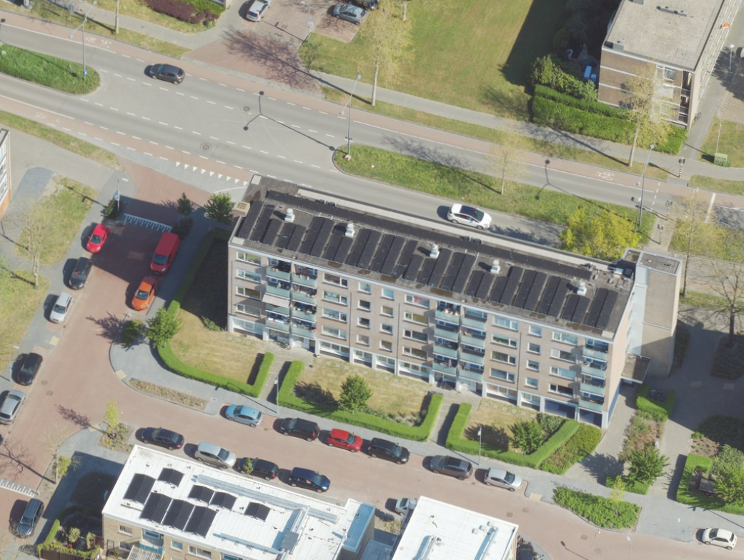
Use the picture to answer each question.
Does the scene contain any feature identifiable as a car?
Yes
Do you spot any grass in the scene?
Yes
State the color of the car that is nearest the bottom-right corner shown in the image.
white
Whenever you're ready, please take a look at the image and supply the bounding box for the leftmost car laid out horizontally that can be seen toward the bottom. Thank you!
[139,427,187,452]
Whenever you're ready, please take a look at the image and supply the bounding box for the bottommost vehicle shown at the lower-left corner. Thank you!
[16,498,46,539]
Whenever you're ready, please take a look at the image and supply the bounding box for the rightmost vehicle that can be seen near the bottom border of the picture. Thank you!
[700,528,738,551]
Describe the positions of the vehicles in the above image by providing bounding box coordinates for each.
[242,0,271,25]
[84,221,112,257]
[236,455,282,482]
[330,1,370,24]
[193,441,238,471]
[0,390,27,428]
[147,62,187,87]
[139,427,187,452]
[66,256,94,292]
[46,288,76,327]
[286,466,333,495]
[223,404,266,429]
[481,467,524,494]
[130,277,159,312]
[449,204,492,230]
[324,429,366,455]
[16,349,45,389]
[279,418,321,443]
[516,538,539,560]
[16,498,46,539]
[700,528,738,551]
[366,439,410,465]
[150,223,184,272]
[427,455,474,481]
[0,0,35,9]
[386,494,418,517]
